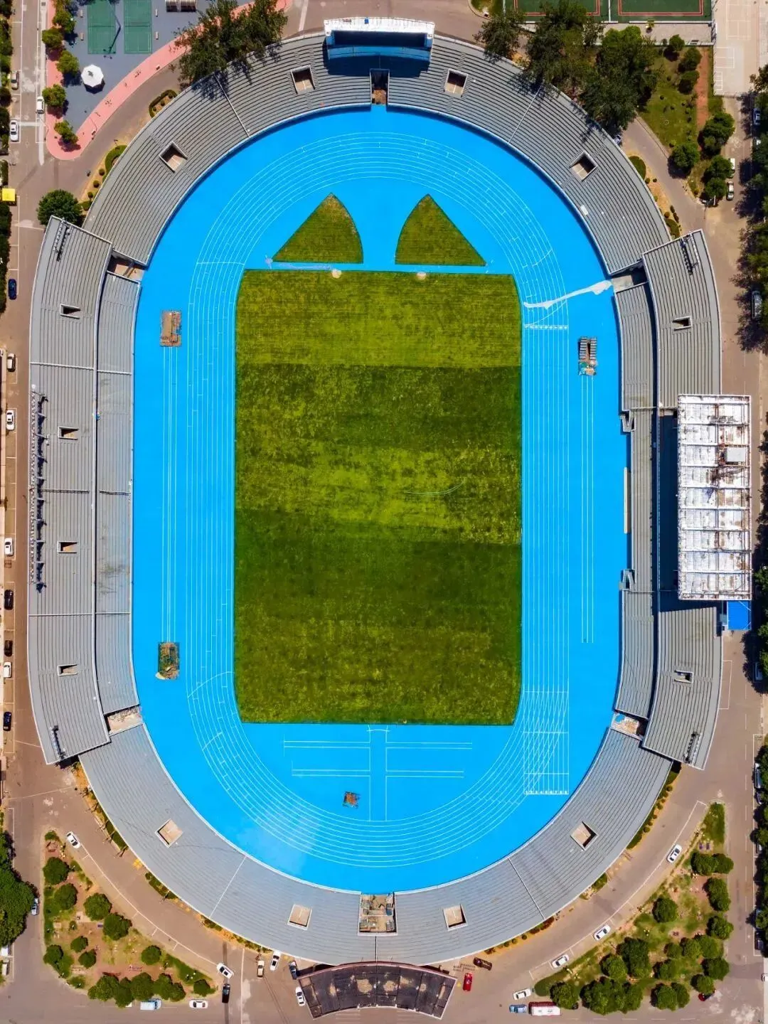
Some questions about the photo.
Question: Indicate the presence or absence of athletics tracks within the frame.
Yes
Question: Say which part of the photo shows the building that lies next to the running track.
bottom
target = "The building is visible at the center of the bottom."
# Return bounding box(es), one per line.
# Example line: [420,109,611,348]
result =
[297,963,457,1020]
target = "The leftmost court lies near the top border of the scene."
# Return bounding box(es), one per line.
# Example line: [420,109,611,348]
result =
[85,0,115,54]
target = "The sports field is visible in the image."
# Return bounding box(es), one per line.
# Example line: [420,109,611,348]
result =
[233,269,523,726]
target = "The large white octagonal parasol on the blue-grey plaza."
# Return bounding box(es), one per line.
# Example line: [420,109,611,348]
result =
[82,65,104,87]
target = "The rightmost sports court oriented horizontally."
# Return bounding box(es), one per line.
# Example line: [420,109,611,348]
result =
[611,0,711,21]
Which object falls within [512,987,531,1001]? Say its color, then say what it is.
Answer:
white car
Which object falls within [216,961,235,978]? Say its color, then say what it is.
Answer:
white car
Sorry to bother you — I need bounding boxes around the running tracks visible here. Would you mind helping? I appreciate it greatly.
[135,107,629,889]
